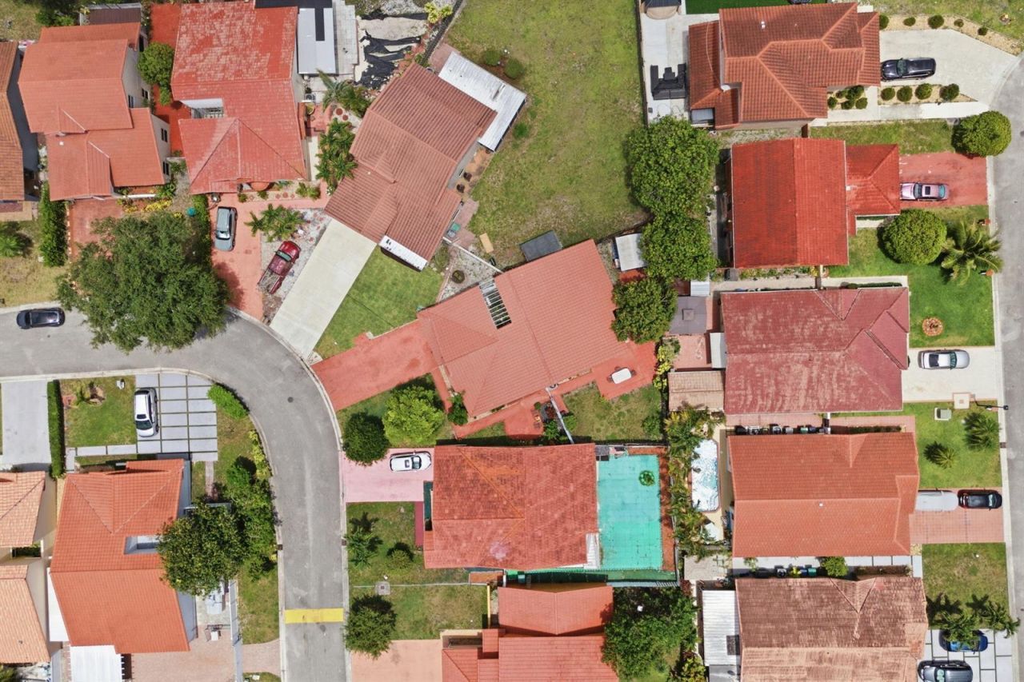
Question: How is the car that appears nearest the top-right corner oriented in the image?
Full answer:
Seen from above, the car that appears nearest the top-right corner lies from left to right.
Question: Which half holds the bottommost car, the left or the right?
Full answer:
The bottommost car is on the right side of the image.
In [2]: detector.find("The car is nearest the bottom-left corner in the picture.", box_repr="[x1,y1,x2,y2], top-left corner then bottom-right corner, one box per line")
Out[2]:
[132,387,160,438]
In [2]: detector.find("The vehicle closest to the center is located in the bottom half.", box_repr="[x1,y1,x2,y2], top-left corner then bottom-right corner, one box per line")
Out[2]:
[388,450,433,474]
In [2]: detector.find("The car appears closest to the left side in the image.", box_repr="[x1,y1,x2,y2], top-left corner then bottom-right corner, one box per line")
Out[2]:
[16,306,67,330]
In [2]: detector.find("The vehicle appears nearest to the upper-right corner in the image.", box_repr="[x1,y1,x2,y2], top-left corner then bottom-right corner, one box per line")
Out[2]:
[880,55,936,83]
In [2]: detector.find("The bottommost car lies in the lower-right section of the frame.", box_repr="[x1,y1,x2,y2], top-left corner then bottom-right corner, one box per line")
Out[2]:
[917,658,974,682]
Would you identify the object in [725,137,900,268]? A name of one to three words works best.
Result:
house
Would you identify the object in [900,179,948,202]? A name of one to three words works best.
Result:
car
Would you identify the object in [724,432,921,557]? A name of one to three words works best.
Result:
house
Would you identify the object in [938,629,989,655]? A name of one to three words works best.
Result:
car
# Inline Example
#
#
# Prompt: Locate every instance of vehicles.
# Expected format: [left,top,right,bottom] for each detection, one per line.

[388,450,433,474]
[917,658,974,682]
[257,239,301,296]
[16,306,67,330]
[917,348,970,371]
[957,488,1003,512]
[900,179,948,202]
[938,629,989,655]
[132,387,160,438]
[880,55,936,83]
